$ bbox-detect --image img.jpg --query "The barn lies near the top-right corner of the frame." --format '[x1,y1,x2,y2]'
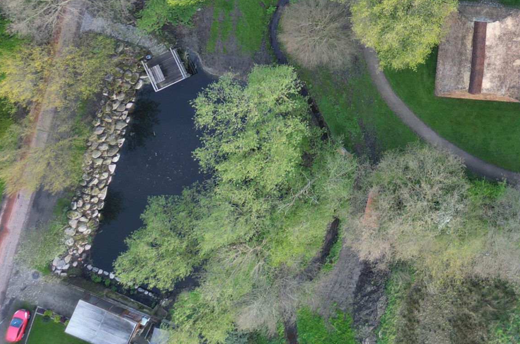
[435,3,520,101]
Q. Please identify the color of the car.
red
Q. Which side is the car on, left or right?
left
